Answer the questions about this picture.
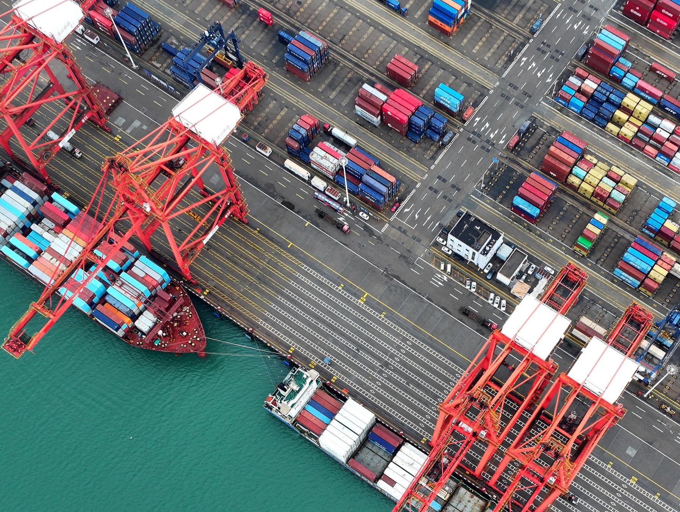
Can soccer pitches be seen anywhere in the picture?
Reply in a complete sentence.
No, no soccer pitch is visible in the view.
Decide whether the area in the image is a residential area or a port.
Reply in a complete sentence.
This image shows a port.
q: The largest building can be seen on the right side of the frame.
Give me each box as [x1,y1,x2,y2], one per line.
[447,210,504,268]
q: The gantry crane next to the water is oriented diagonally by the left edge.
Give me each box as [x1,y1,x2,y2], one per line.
[0,61,270,376]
